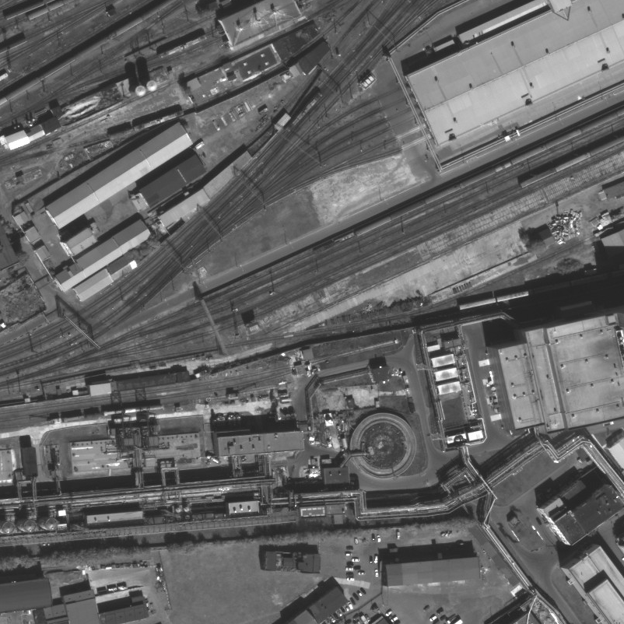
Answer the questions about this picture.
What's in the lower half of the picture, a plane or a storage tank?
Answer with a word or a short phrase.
storage tank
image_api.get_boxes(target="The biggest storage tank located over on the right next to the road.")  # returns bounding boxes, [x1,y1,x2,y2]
[342,412,415,478]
